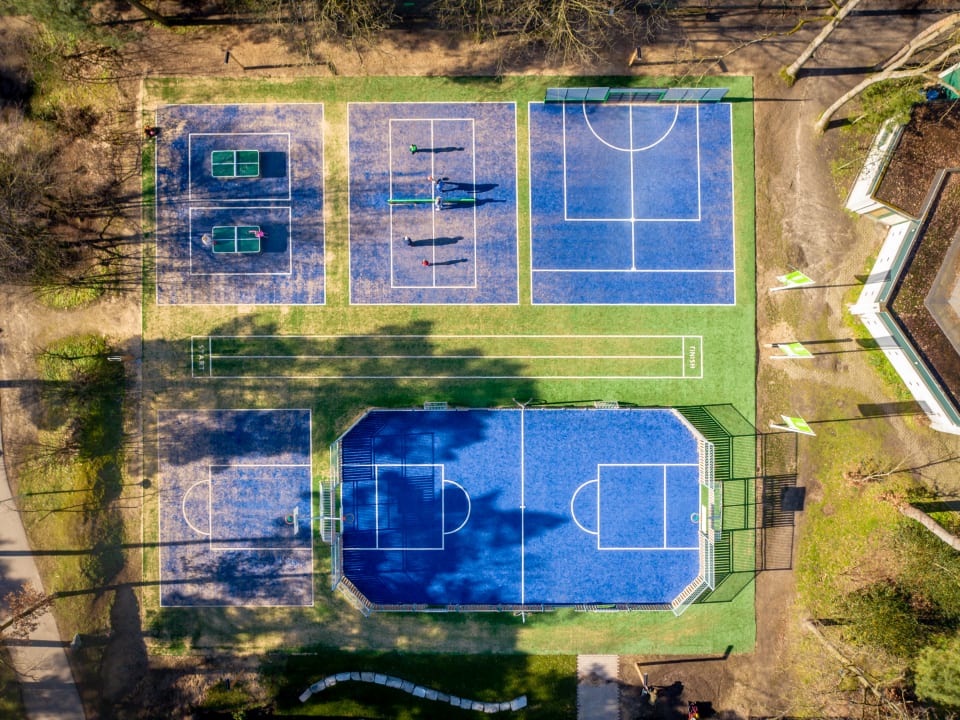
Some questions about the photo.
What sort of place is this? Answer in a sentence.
This looks like a sports ground.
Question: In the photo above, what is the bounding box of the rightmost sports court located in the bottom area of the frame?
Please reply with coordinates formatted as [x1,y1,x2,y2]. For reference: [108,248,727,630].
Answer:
[332,407,712,609]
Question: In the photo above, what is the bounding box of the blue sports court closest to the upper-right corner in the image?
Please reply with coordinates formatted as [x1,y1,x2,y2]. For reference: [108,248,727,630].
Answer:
[530,102,736,305]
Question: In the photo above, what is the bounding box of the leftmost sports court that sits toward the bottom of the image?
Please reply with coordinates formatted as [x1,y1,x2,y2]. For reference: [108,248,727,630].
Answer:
[158,409,314,608]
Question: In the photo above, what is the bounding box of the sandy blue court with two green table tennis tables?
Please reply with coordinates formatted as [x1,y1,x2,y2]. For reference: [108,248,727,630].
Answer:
[156,102,326,305]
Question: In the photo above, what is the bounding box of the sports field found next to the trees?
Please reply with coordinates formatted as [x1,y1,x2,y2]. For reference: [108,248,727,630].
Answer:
[142,76,757,655]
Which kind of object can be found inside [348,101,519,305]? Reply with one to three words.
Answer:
sports court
